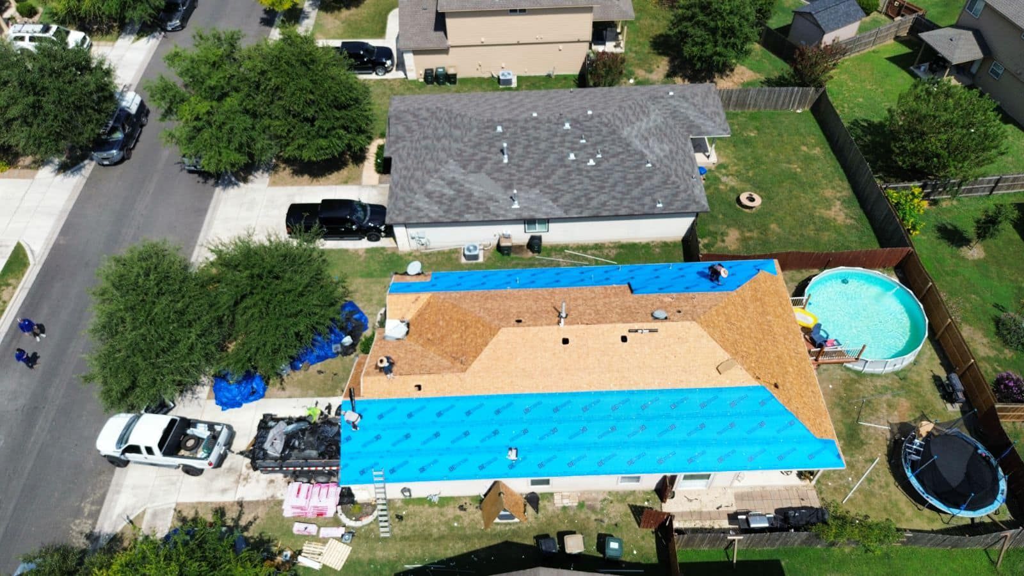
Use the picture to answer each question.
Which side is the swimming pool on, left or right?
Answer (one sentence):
It is on the right.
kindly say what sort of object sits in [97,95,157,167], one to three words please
truck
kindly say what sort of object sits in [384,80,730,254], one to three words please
house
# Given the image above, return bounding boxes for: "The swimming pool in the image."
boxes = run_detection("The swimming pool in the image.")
[800,266,929,375]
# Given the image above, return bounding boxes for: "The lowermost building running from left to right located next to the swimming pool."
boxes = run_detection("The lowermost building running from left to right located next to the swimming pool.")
[339,258,845,496]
